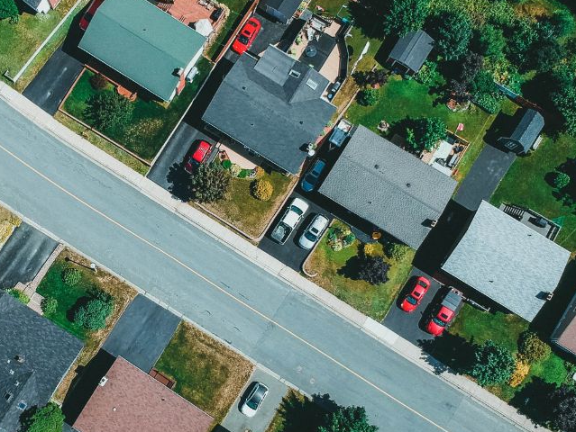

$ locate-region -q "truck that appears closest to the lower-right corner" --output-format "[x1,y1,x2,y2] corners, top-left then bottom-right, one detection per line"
[426,285,466,336]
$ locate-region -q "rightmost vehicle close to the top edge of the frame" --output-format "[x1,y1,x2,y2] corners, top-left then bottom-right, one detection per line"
[232,18,262,54]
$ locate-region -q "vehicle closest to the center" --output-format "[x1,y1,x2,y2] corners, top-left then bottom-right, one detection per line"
[273,197,308,245]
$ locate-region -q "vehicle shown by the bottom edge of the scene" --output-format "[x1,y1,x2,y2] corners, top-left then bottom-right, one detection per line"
[241,380,268,419]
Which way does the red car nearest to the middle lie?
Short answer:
diagonally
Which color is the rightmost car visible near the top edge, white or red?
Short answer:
red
